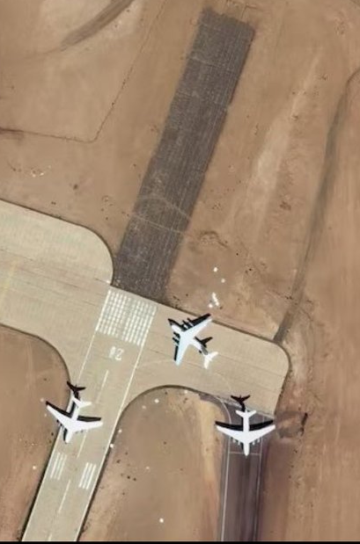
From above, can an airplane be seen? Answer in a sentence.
Yes, an airplane can be made out from above.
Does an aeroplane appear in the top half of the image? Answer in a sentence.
No, I can find no aeroplane in the top half of the image.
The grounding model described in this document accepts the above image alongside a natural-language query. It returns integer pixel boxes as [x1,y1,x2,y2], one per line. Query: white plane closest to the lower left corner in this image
[45,399,102,443]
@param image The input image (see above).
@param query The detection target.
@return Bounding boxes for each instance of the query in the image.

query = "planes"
[171,321,219,367]
[45,399,102,443]
[217,410,275,456]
